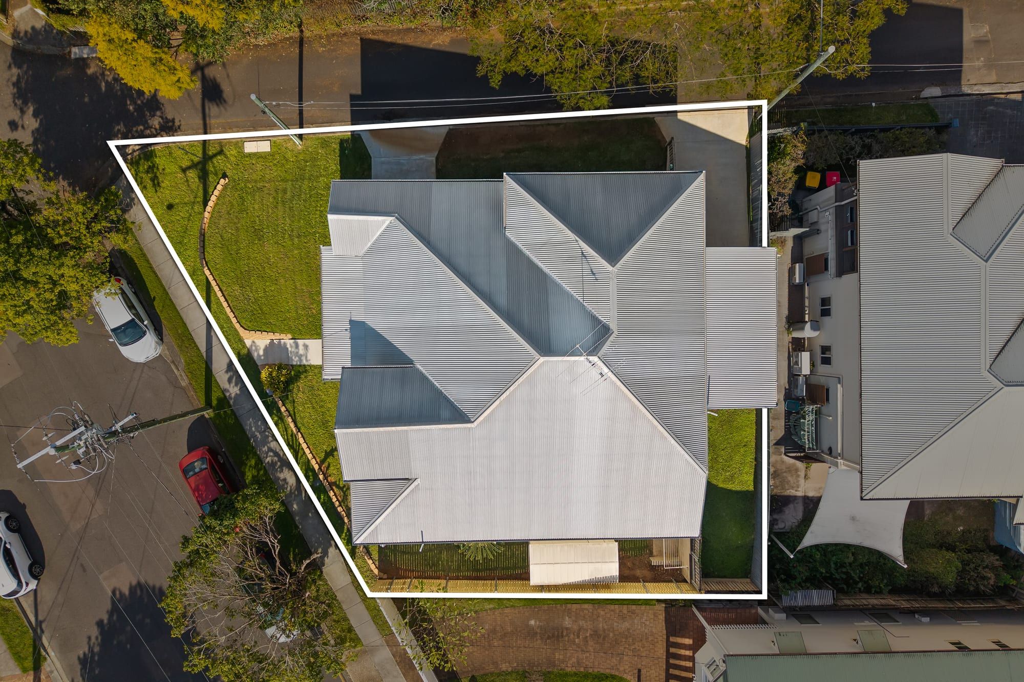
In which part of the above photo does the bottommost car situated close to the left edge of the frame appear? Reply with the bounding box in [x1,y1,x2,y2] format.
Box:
[0,513,42,604]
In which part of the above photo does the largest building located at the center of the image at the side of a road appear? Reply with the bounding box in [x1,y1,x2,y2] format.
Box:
[319,169,780,553]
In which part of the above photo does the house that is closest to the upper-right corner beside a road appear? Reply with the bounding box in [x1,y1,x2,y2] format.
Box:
[797,152,1024,502]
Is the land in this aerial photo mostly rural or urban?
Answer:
urban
